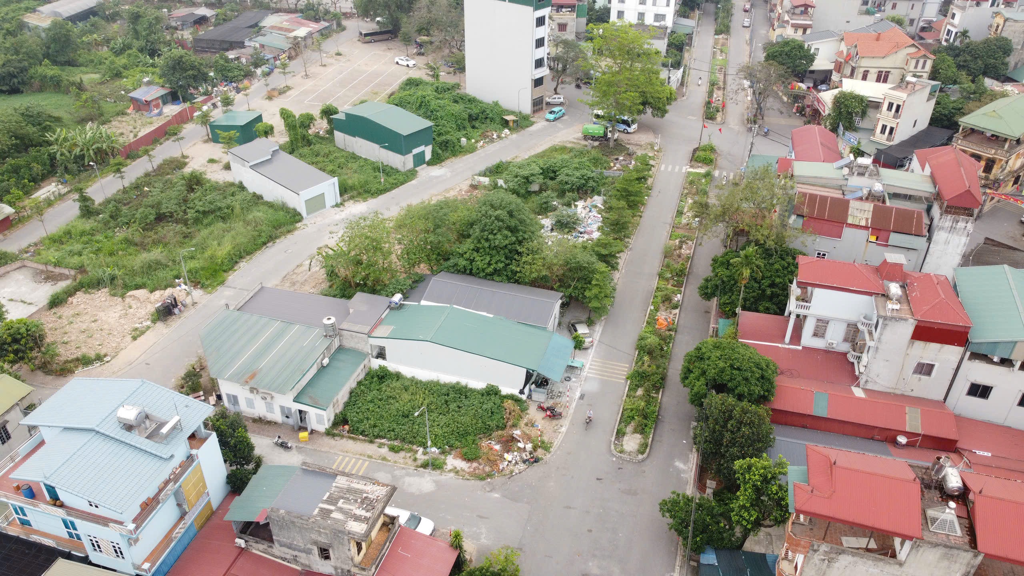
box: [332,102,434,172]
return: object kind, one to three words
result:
building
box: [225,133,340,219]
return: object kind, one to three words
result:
shed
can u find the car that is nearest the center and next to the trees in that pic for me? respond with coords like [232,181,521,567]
[566,316,597,345]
